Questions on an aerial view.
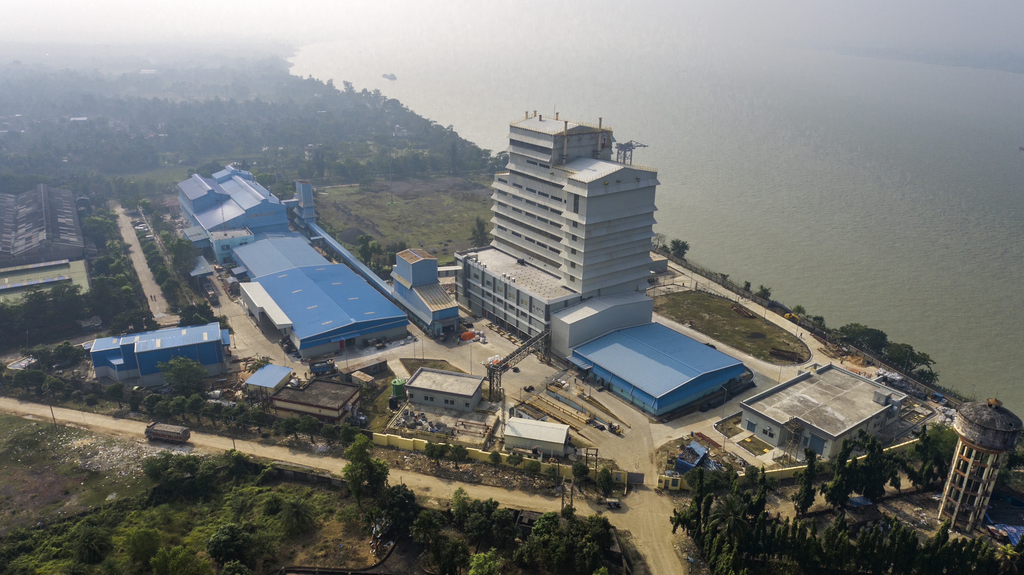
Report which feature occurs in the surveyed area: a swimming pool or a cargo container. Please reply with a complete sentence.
Of the two, only a cargo container appears.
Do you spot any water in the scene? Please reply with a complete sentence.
Yes, water can be seen from above here.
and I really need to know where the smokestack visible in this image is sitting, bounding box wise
[495,388,507,445]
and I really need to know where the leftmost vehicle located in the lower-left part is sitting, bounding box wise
[145,423,191,444]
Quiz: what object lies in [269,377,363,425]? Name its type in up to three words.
building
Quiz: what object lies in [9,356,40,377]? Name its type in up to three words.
shed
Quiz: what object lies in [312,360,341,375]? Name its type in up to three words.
vehicle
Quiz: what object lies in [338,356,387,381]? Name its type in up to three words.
shipping container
